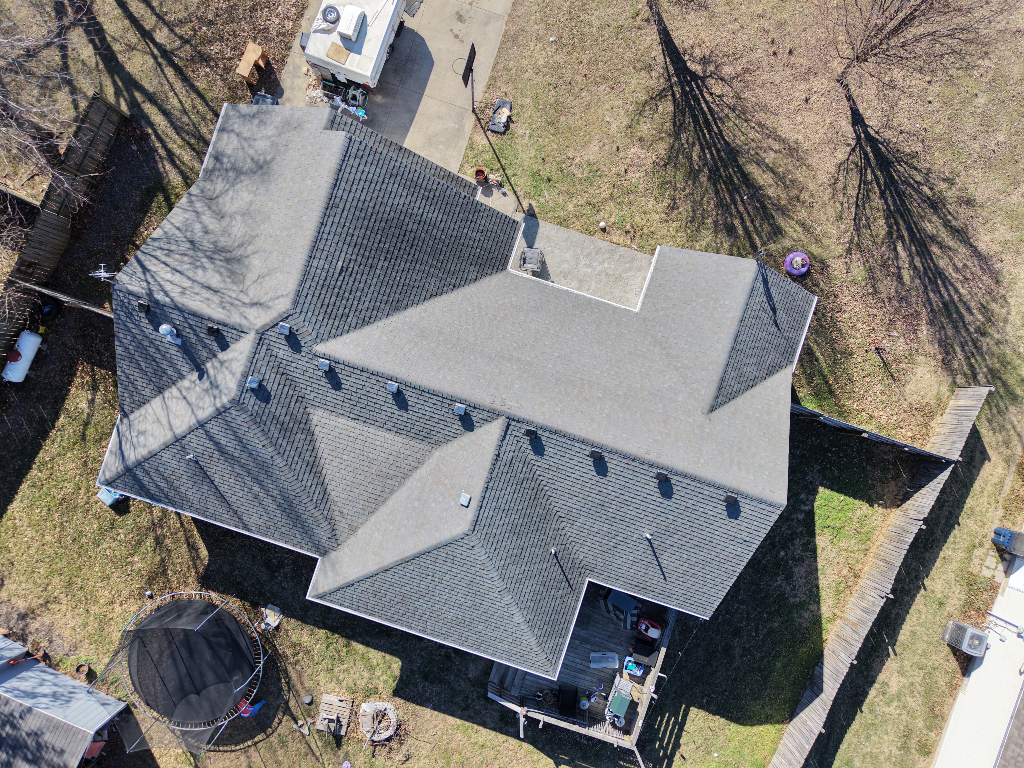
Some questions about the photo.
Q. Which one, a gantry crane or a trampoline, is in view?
trampoline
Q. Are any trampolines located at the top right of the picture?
No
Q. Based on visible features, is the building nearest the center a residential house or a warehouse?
residential house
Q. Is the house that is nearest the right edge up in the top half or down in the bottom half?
bottom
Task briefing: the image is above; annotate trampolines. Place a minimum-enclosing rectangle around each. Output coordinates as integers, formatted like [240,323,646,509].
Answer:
[86,588,273,755]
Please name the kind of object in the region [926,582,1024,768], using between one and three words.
house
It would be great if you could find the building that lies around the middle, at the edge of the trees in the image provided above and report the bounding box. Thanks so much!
[96,103,818,680]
